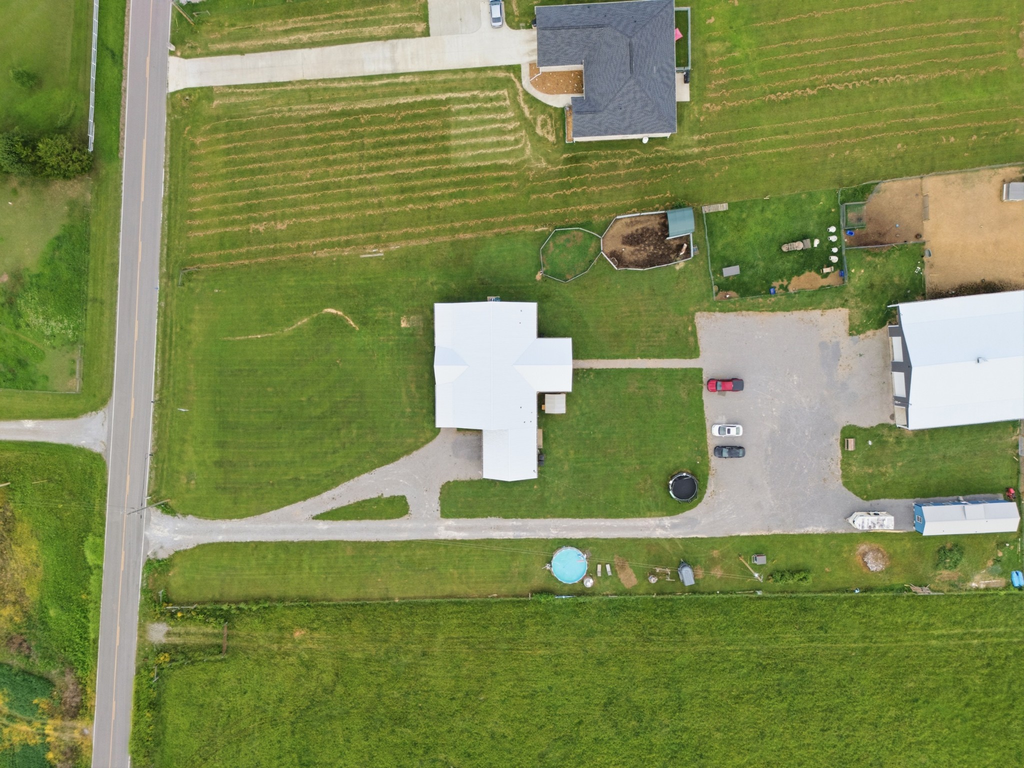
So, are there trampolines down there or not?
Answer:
Yes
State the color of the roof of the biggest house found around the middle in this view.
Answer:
white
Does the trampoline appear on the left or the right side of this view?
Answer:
right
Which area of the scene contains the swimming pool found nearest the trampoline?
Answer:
bottom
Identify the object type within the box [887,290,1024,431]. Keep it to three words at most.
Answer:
barn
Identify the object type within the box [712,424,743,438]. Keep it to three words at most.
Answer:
car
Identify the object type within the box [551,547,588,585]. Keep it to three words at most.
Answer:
swimming pool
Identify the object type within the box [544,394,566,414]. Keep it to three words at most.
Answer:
shed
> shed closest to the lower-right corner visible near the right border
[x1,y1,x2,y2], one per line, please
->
[912,498,1021,535]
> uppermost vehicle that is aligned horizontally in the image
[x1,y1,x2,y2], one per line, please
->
[706,378,744,393]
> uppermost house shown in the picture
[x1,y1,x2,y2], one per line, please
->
[530,0,677,143]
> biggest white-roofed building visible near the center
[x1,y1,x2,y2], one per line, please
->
[434,302,573,480]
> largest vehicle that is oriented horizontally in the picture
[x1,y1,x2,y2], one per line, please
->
[844,512,896,531]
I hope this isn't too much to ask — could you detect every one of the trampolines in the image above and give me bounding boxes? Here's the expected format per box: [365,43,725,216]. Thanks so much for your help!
[670,474,702,504]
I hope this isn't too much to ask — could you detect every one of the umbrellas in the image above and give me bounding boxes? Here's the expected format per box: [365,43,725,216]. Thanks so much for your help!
[673,22,686,40]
